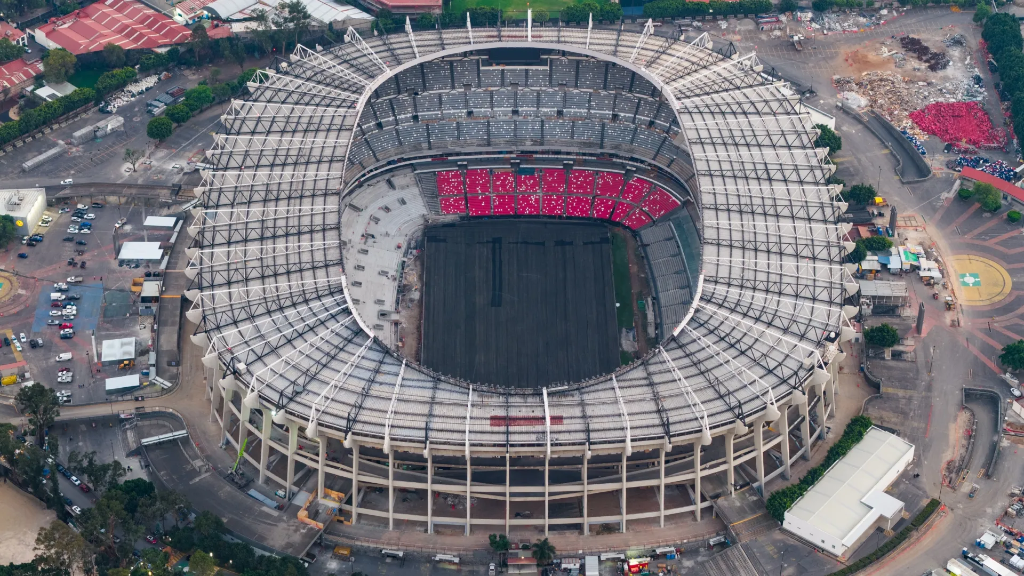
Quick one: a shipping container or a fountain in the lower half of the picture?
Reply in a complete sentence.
The one visible in the lower half of the picture is a shipping container.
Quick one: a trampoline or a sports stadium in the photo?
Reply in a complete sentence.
The image shows a sports stadium.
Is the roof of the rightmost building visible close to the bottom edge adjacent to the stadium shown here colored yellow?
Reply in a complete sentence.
No, the roof of the rightmost building visible close to the bottom edge adjacent to the stadium is actually white.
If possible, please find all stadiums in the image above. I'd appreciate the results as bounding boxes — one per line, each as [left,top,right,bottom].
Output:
[181,12,861,534]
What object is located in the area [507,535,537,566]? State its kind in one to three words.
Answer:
building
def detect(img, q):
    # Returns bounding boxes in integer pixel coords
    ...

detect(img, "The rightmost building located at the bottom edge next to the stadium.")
[784,428,914,556]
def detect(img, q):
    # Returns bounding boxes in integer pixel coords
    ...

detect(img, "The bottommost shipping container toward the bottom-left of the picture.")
[249,486,282,513]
